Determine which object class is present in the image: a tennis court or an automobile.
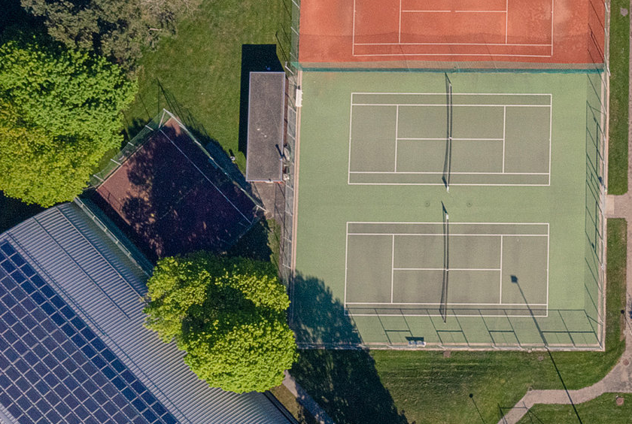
tennis court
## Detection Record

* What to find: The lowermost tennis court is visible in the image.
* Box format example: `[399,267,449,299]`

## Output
[294,203,605,344]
